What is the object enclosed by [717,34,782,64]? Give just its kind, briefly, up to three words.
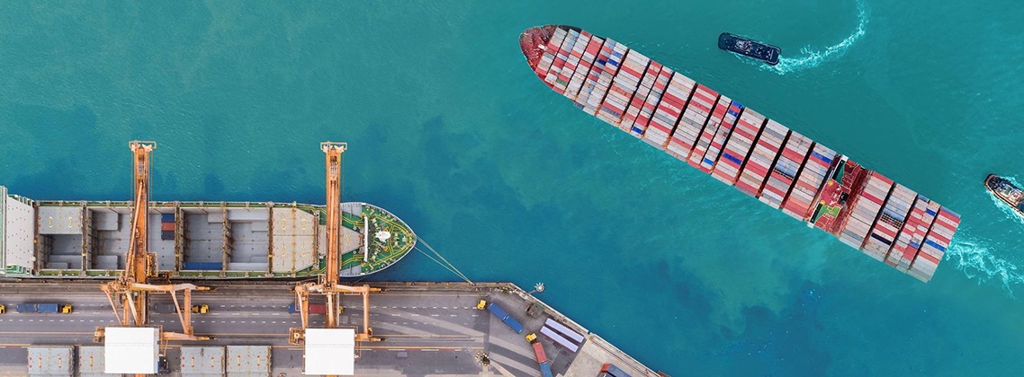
boat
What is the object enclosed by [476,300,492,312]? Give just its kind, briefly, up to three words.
vehicle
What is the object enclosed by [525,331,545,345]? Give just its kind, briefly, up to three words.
vehicle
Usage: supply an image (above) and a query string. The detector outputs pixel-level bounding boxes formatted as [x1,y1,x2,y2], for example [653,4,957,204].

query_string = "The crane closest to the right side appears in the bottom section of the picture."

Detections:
[277,141,400,377]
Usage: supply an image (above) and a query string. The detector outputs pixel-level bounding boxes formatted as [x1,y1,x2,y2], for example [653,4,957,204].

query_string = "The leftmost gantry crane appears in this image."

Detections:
[93,141,226,377]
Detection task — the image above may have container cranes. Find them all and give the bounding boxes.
[93,141,226,377]
[277,141,400,377]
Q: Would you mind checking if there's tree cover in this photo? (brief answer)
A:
No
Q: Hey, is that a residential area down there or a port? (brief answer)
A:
port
